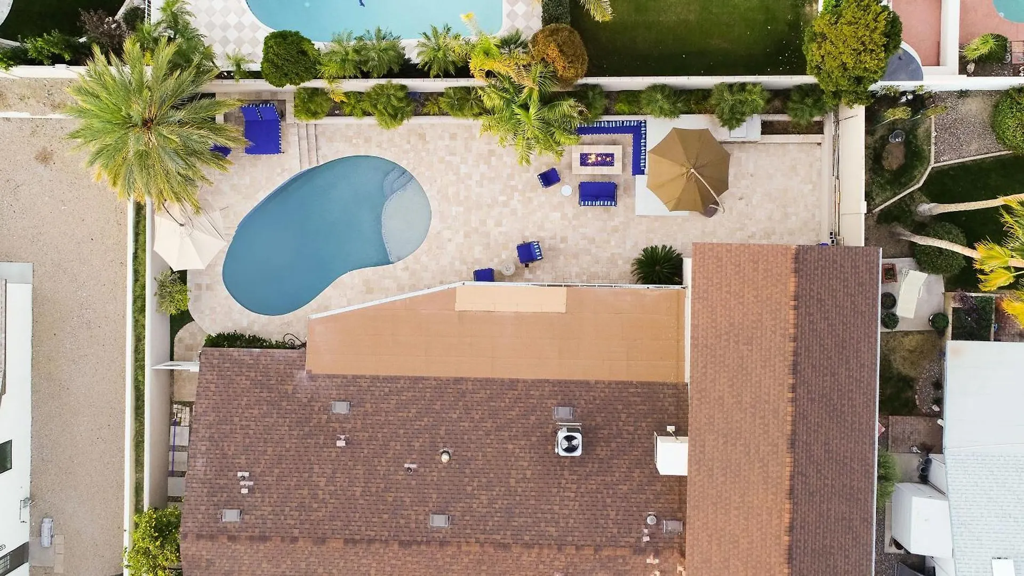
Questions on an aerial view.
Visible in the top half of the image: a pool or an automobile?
pool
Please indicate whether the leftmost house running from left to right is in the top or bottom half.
bottom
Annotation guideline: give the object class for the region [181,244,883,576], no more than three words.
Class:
house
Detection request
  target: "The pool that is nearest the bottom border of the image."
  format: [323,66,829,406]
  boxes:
[221,153,433,317]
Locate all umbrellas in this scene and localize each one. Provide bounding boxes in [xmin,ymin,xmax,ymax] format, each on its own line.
[646,128,730,217]
[154,198,227,271]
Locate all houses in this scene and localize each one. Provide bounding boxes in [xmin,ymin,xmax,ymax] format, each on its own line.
[0,280,43,576]
[927,341,1024,576]
[181,244,883,576]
